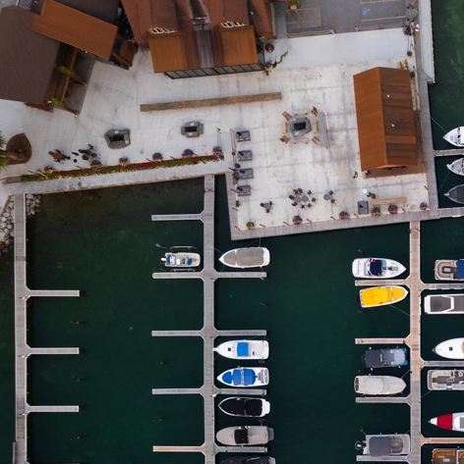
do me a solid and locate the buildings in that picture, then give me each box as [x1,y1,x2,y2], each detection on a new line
[0,0,141,123]
[353,64,425,179]
[125,0,281,80]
